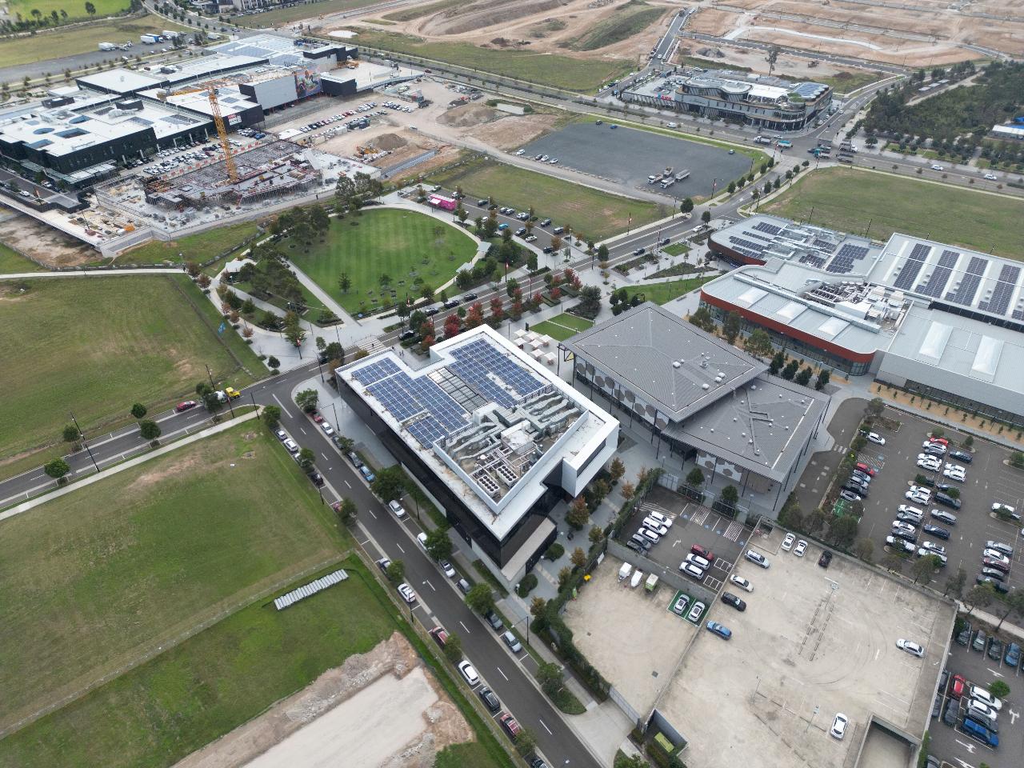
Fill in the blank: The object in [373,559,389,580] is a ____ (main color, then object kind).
gray car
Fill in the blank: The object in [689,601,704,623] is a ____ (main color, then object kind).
white car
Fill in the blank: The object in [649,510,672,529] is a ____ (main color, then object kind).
white car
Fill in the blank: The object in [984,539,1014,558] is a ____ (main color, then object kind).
gray vehicle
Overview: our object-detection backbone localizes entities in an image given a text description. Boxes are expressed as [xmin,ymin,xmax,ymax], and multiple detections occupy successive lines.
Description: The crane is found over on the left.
[151,64,301,173]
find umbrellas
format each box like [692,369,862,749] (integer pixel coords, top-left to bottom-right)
[527,340,544,349]
[513,329,529,338]
[538,335,554,346]
[530,348,546,361]
[525,332,541,341]
[512,338,529,349]
[542,352,559,364]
